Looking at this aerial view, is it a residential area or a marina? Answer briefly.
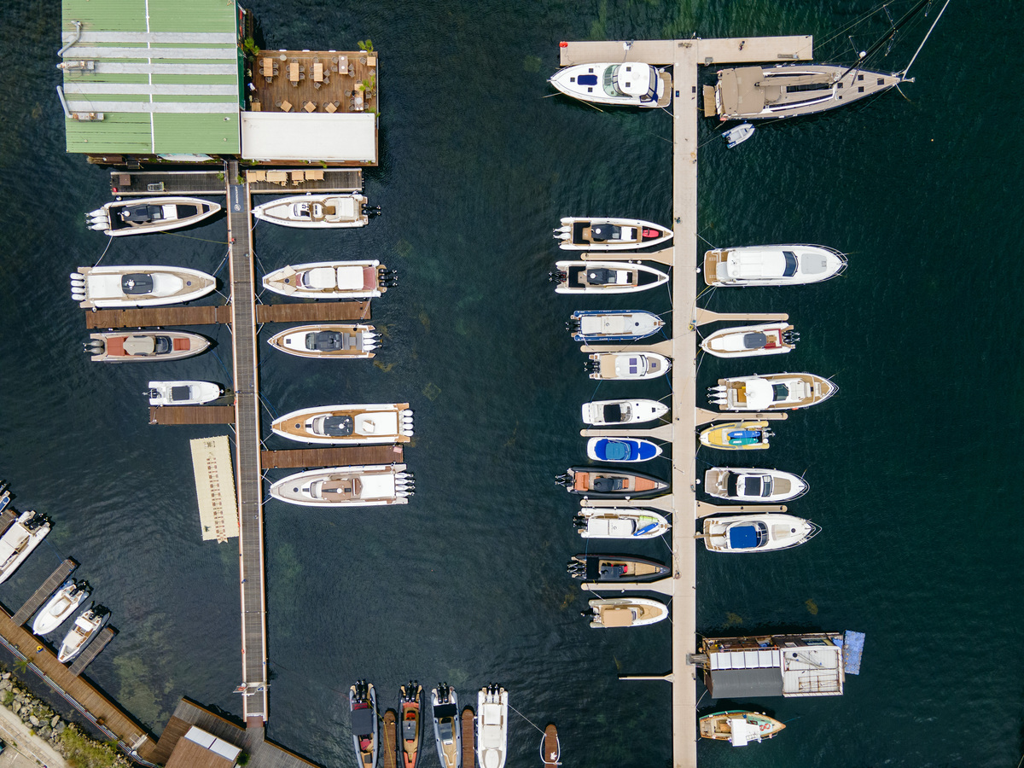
marina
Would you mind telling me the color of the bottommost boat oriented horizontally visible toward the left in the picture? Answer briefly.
white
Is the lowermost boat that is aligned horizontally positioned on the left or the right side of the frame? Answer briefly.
right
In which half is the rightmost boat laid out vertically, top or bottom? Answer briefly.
bottom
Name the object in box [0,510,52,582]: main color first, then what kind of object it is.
white boat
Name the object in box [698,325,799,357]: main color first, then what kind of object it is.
white boat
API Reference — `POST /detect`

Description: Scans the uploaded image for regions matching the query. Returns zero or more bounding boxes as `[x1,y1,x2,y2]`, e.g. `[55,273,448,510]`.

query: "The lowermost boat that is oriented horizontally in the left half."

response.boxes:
[269,464,415,506]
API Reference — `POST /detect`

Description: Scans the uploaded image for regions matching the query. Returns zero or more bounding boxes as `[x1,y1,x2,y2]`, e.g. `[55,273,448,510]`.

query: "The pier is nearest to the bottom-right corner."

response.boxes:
[843,628,866,675]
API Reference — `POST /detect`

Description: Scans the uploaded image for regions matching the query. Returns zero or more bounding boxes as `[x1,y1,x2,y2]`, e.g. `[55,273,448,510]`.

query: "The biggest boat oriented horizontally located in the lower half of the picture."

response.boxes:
[697,629,845,698]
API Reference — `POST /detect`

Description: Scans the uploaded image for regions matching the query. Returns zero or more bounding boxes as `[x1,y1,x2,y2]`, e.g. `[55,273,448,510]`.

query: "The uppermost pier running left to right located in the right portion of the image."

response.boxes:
[580,247,673,266]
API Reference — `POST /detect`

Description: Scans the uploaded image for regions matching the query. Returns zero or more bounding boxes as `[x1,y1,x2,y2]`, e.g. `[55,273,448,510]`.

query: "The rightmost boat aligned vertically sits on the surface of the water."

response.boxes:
[478,682,508,768]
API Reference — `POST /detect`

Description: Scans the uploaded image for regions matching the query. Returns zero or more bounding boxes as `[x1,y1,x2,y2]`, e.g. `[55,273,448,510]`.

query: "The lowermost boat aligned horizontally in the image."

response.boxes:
[697,708,788,746]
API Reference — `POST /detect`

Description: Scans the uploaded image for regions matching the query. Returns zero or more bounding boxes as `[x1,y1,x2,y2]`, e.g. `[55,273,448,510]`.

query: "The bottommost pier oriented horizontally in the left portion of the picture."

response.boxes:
[261,445,403,468]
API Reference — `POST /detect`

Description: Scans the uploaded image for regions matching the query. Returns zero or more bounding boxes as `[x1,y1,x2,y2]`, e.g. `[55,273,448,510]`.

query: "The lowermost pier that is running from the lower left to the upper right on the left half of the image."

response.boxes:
[72,626,118,673]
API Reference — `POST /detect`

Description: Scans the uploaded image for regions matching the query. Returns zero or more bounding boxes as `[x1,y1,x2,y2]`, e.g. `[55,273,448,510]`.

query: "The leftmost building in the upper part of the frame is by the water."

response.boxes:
[55,0,258,176]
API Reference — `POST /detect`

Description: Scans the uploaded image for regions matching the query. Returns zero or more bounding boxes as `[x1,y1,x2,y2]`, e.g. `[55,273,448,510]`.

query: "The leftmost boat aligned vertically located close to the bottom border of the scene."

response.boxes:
[351,678,379,768]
